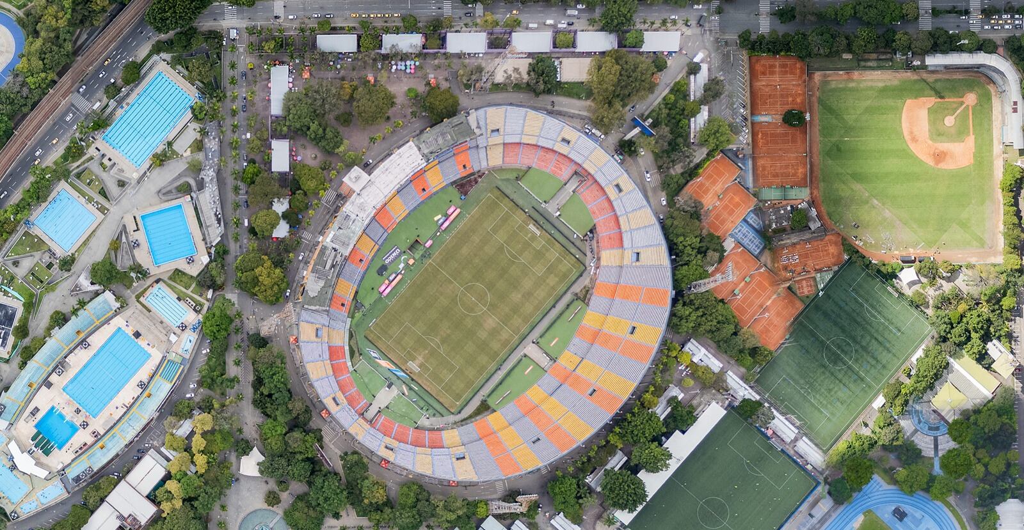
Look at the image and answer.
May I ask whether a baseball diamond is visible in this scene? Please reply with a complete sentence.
Yes, a baseball diamond can be made out from above.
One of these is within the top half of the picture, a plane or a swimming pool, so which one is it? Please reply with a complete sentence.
It is a swimming pool that can be seen within the top half of the picture.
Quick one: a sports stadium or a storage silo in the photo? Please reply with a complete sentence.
The image shows a sports stadium.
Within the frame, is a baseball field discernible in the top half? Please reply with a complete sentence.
Yes, I can see a baseball field in the top half.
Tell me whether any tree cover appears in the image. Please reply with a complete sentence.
Yes, some tree cover is visible.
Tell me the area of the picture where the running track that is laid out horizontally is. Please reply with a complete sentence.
The running track that is laid out horizontally is located in the bottom right region of the scene.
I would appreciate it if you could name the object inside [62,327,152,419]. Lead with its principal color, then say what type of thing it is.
blue swimming pool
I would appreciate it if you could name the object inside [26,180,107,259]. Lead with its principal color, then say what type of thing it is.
blue swimming pool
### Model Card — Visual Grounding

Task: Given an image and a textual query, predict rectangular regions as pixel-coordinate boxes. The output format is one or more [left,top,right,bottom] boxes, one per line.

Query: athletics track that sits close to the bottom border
[816,475,956,530]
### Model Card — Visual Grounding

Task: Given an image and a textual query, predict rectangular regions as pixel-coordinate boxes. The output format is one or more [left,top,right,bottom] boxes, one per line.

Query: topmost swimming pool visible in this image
[94,60,200,174]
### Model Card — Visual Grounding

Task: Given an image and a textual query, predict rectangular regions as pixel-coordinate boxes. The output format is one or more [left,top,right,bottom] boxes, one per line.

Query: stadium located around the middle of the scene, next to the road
[295,104,674,483]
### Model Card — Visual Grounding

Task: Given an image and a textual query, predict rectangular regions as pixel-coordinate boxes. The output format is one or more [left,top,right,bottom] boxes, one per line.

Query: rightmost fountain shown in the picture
[238,508,289,530]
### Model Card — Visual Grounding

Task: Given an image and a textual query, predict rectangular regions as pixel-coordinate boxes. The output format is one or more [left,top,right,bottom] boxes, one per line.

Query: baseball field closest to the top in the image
[810,70,1011,263]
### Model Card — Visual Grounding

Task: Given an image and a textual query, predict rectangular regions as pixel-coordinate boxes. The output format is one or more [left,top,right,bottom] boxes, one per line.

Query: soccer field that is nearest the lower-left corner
[365,188,584,411]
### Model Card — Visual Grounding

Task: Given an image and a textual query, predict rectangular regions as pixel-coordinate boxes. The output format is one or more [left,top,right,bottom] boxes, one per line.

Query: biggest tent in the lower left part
[239,446,262,476]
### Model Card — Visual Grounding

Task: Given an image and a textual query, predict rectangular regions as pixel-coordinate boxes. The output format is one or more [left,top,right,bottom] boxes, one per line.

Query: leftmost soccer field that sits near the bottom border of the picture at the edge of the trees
[619,404,821,530]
